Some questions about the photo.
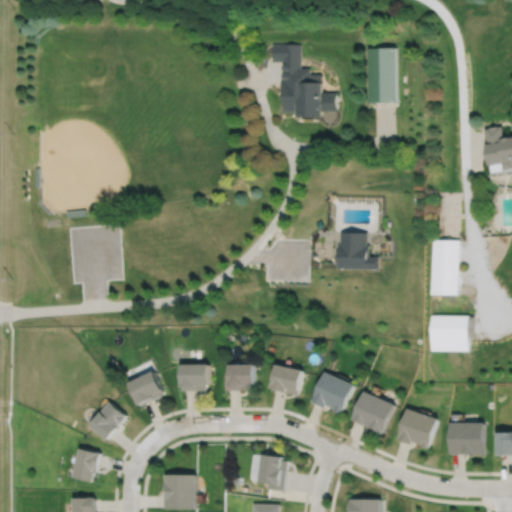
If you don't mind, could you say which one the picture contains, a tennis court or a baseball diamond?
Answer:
baseball diamond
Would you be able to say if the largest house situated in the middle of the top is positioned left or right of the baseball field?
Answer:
right of it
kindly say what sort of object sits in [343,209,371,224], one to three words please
swimming pool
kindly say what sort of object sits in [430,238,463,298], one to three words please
barn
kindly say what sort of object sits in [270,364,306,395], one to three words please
house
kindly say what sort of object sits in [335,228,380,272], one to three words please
building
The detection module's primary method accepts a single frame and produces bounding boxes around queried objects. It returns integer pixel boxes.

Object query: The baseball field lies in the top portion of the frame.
[41,36,212,214]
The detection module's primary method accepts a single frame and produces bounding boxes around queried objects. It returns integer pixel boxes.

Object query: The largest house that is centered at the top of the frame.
[271,42,337,121]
